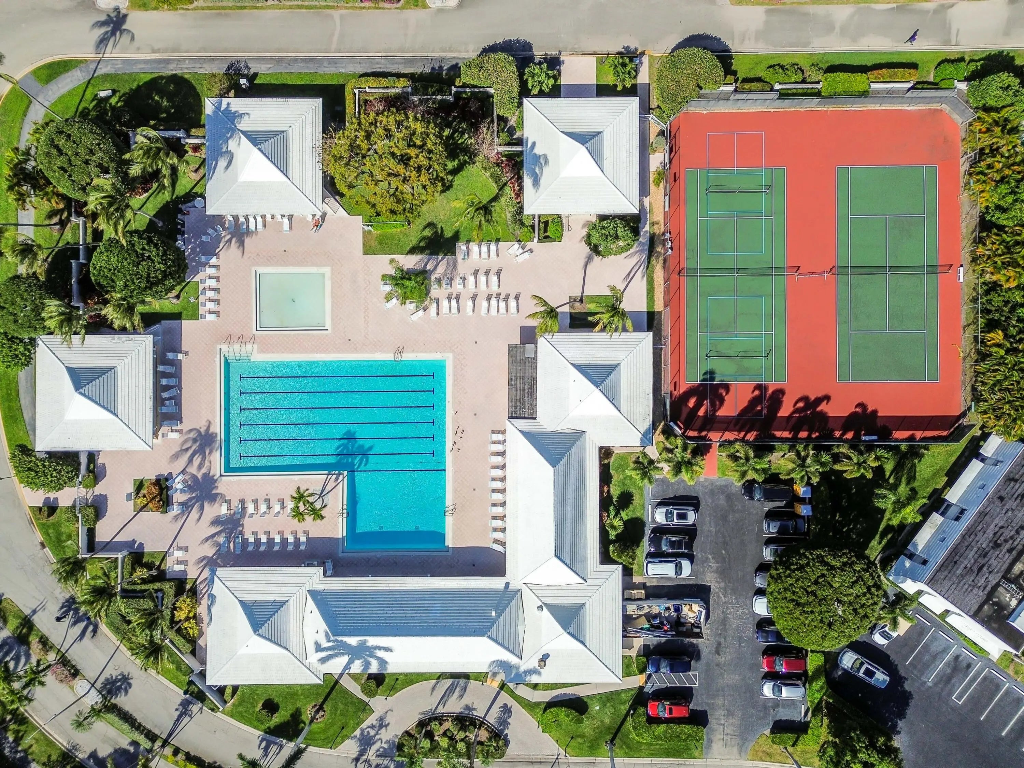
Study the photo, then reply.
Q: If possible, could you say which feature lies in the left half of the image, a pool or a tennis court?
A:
pool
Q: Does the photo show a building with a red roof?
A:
No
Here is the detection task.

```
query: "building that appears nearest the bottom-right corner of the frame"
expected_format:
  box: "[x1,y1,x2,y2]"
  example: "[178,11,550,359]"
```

[887,434,1024,668]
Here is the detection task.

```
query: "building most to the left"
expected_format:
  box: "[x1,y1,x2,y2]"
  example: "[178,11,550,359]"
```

[35,335,157,451]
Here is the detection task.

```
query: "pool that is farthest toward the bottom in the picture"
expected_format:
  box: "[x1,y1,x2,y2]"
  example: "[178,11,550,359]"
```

[216,345,454,556]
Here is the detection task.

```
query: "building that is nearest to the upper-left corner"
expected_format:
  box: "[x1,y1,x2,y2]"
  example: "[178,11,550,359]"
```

[205,97,323,215]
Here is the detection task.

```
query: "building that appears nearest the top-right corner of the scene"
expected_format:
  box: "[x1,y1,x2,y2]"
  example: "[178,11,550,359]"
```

[523,97,639,214]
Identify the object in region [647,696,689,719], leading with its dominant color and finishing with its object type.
red car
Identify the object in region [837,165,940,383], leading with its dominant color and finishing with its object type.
green tennis court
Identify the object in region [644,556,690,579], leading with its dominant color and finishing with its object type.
white car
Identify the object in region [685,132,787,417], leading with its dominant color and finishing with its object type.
green tennis court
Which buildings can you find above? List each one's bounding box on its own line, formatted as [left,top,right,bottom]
[887,434,1024,668]
[35,335,157,451]
[523,97,639,214]
[206,332,653,685]
[205,97,323,215]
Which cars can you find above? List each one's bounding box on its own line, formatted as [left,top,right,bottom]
[762,515,804,536]
[753,563,785,584]
[754,625,797,647]
[752,594,779,616]
[647,653,690,676]
[760,677,804,700]
[742,481,792,504]
[644,556,690,579]
[762,542,805,561]
[654,505,697,526]
[647,533,693,555]
[761,652,805,675]
[647,696,689,719]
[839,649,887,687]
[868,617,899,643]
